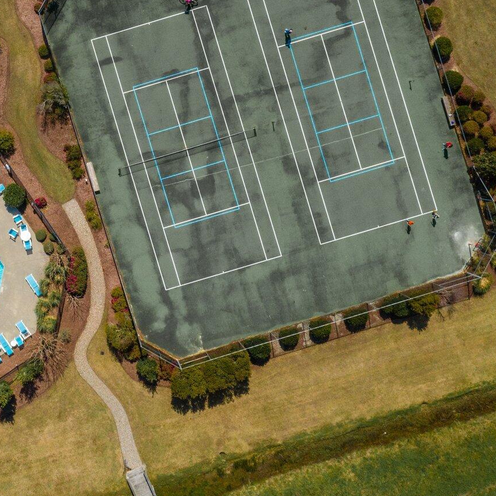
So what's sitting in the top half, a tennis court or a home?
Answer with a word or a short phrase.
tennis court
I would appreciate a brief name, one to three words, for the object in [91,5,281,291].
tennis court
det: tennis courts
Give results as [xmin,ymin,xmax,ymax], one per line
[91,5,281,291]
[248,0,437,245]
